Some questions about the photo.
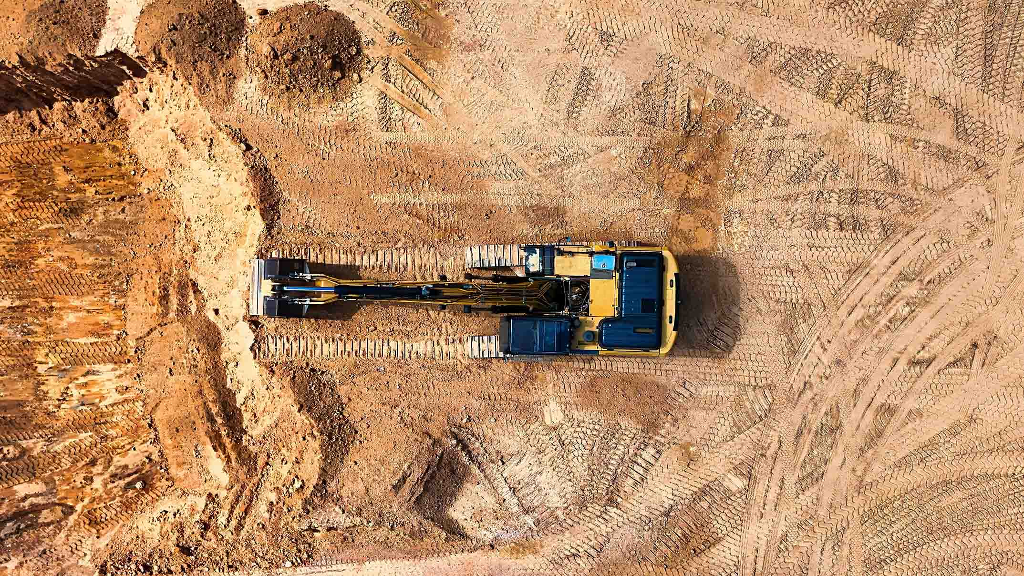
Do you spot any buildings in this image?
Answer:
No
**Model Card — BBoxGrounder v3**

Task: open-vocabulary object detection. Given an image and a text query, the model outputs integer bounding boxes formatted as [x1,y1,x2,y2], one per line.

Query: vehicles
[245,236,682,363]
